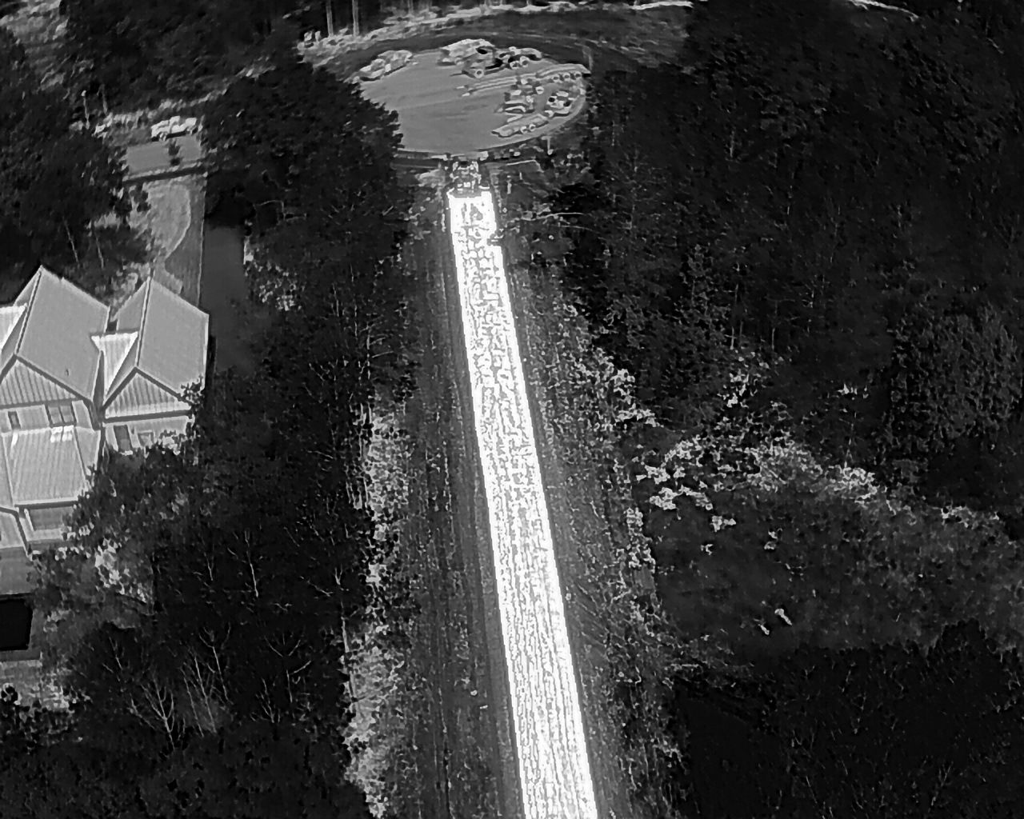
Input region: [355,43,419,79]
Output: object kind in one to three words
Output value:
truck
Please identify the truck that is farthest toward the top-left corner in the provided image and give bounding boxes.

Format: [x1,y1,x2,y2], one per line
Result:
[149,116,201,143]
